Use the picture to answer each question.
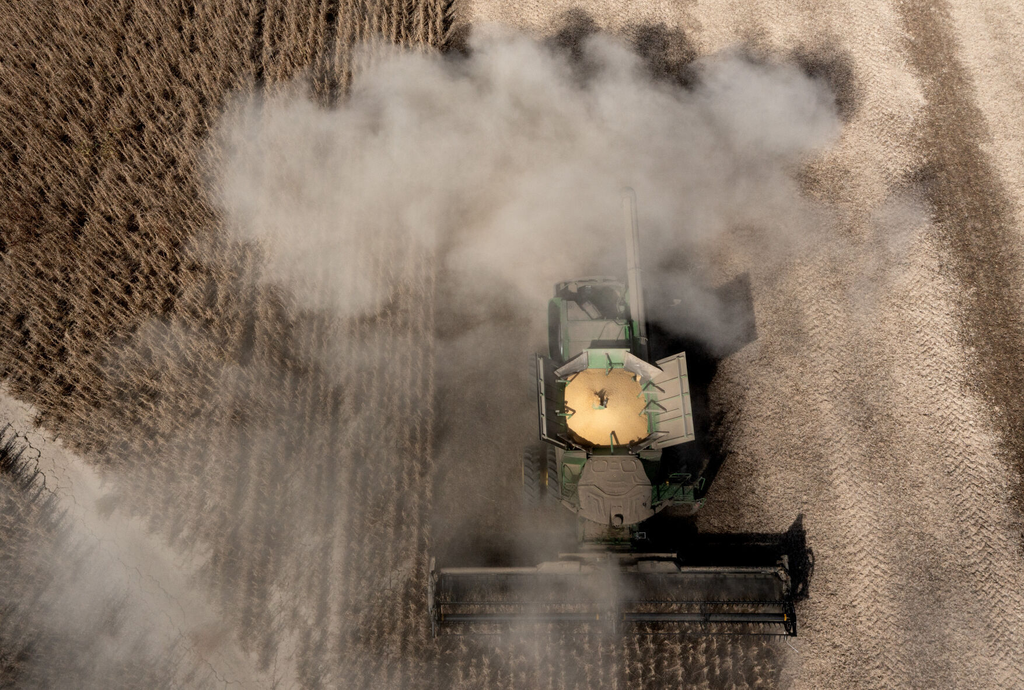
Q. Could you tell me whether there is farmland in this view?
Yes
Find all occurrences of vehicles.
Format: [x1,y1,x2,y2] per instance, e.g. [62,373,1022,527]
[429,186,801,651]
